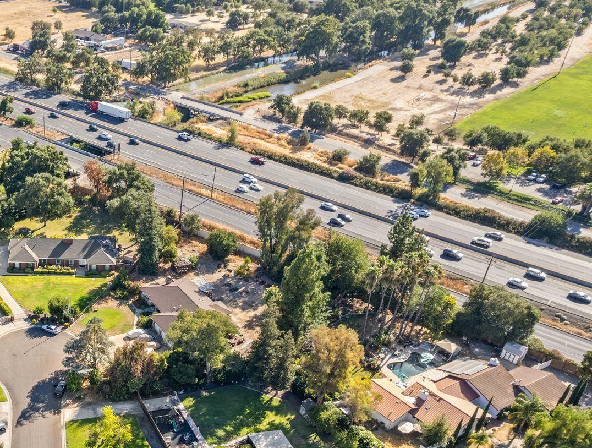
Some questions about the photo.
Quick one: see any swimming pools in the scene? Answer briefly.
Yes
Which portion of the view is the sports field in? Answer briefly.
top right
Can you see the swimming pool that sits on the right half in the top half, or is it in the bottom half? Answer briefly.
bottom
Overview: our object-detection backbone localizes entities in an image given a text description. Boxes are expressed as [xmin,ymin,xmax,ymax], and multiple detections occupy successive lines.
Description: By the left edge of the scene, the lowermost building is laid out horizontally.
[9,234,117,274]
